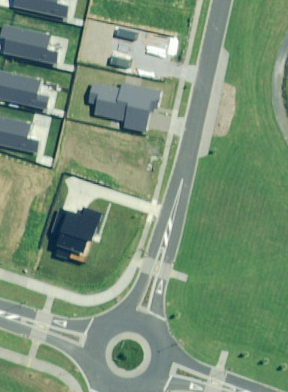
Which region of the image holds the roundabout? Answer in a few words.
bottom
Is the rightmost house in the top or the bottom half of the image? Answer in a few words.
top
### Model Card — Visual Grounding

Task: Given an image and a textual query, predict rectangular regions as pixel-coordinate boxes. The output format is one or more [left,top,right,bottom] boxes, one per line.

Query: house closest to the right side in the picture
[87,82,162,132]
